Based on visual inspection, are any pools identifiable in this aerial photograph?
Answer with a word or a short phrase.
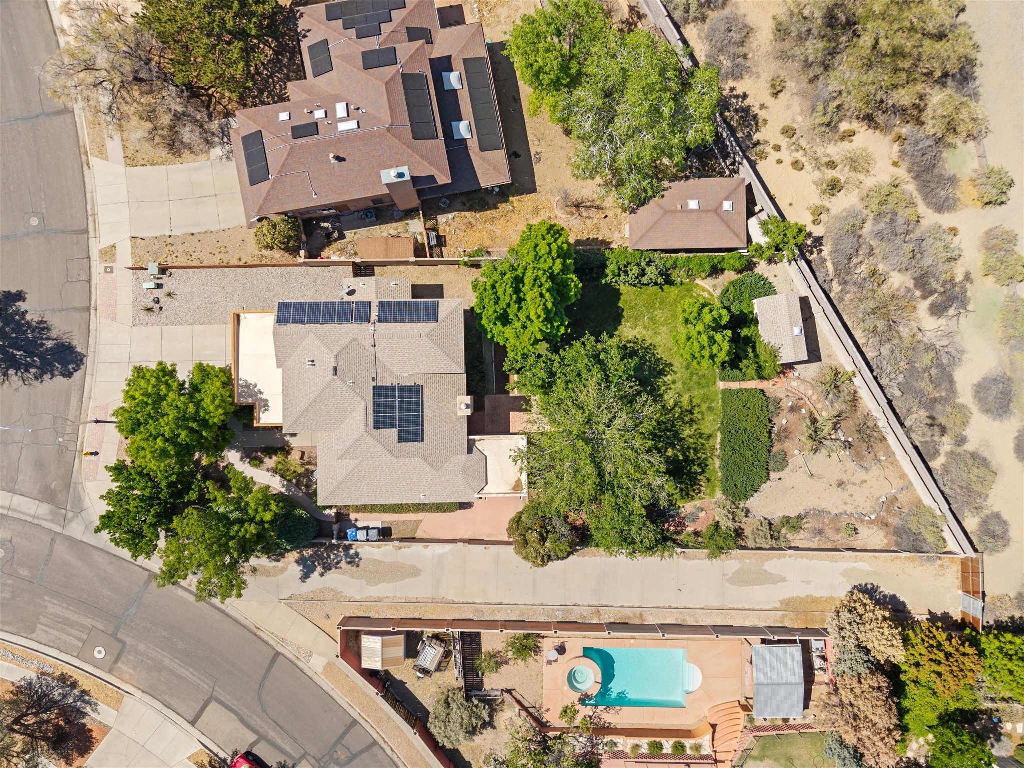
Yes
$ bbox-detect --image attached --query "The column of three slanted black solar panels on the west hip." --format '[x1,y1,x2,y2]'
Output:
[242,131,270,185]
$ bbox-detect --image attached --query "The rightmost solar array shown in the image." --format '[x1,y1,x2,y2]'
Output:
[463,58,502,151]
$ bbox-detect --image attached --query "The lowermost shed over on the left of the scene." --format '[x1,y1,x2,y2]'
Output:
[361,629,407,671]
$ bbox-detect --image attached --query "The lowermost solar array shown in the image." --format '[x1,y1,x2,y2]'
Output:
[373,386,421,443]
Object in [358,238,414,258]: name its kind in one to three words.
shed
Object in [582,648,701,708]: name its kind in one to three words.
swimming pool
